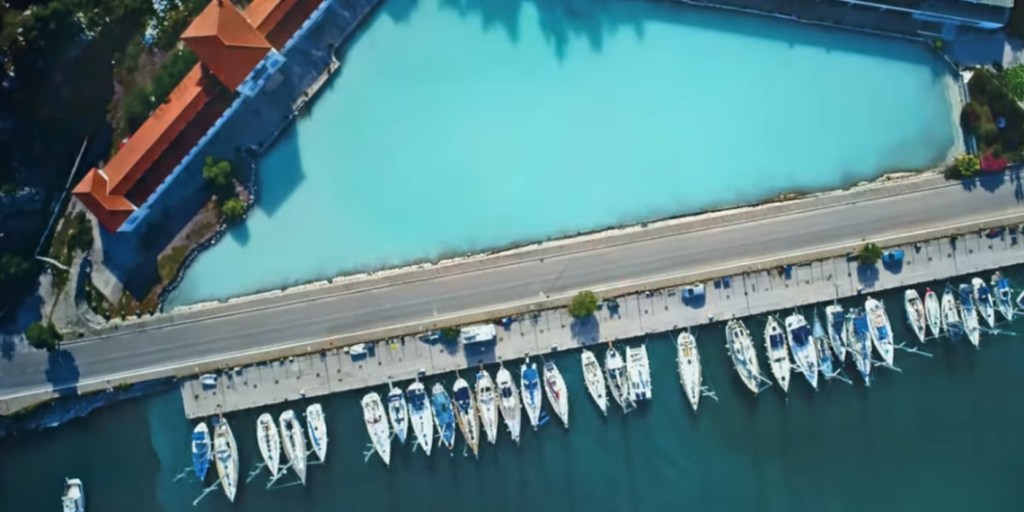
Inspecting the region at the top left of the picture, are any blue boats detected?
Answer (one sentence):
No, I see no blue boat at the top left of the picture.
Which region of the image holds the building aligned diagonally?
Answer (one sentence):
Look in the top left portion of the view to spot the building aligned diagonally.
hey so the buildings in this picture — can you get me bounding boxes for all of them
[73,0,342,232]
[842,0,1018,49]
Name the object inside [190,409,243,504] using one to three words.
boat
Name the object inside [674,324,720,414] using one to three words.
boat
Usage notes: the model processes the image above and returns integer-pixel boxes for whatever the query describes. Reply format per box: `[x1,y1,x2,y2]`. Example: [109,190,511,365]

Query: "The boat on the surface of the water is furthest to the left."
[61,475,86,512]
